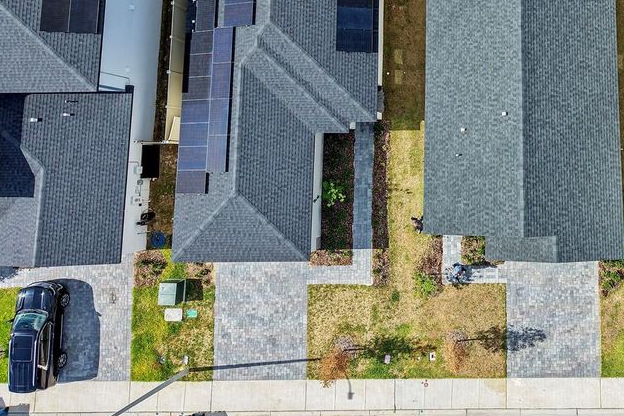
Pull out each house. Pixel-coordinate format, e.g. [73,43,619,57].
[424,0,624,264]
[0,0,160,271]
[172,0,385,262]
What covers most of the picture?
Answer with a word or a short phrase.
buildings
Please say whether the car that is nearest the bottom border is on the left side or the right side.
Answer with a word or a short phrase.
left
